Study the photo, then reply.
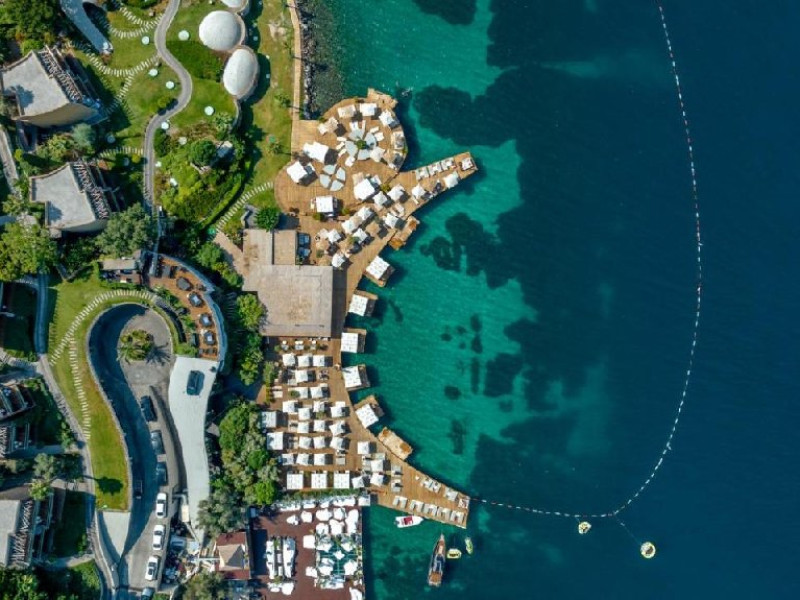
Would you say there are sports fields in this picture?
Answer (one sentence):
No, no sports field is visible in the view.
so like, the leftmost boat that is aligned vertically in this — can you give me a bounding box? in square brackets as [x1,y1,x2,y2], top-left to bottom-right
[427,537,445,589]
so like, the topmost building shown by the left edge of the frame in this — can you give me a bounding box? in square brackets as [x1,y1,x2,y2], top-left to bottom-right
[1,42,116,127]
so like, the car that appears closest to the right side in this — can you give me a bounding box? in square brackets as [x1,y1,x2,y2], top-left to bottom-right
[188,370,202,396]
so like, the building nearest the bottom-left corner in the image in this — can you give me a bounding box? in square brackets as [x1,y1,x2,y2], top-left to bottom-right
[0,489,60,570]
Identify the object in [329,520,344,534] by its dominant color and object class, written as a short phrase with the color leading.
white umbrella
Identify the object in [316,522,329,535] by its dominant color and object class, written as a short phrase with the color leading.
white umbrella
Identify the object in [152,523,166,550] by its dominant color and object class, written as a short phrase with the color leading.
white vehicle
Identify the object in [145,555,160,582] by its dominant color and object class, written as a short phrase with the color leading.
white car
